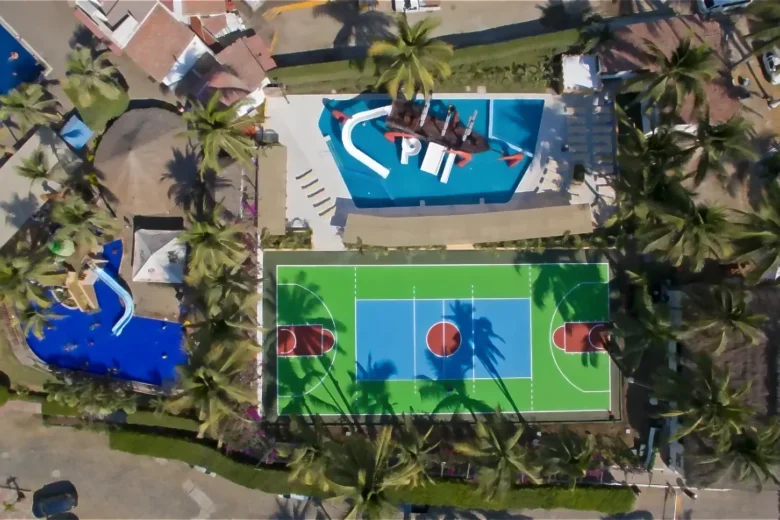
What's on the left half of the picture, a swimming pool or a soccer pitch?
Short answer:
swimming pool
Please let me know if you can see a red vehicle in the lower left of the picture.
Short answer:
No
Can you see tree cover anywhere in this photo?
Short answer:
Yes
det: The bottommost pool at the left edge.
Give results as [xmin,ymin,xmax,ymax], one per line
[21,235,189,388]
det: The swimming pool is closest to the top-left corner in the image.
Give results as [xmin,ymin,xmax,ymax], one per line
[0,24,53,116]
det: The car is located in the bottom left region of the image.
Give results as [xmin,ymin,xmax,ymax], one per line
[30,487,81,518]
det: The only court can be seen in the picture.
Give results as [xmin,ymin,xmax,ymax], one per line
[264,250,622,419]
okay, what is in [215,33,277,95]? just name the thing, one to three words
house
